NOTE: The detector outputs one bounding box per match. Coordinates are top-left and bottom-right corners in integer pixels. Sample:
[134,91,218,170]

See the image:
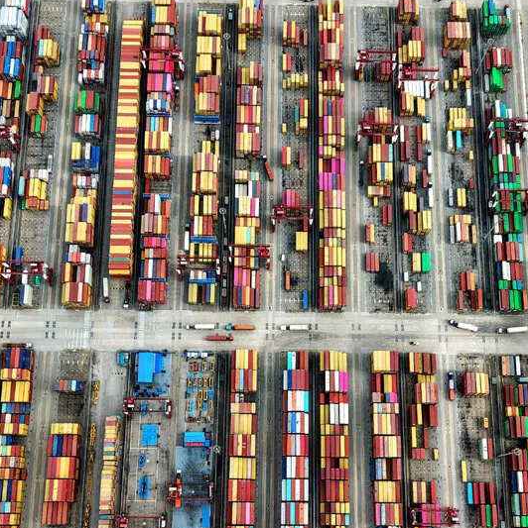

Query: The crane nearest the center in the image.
[227,242,271,272]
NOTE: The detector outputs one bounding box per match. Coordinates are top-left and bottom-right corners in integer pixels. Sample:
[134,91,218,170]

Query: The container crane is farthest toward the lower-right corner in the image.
[404,506,461,528]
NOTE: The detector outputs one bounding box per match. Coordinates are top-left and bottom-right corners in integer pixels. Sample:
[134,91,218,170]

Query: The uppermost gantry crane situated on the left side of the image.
[140,47,187,81]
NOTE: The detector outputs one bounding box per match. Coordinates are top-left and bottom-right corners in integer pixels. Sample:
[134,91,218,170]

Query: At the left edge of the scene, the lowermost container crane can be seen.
[0,258,52,288]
